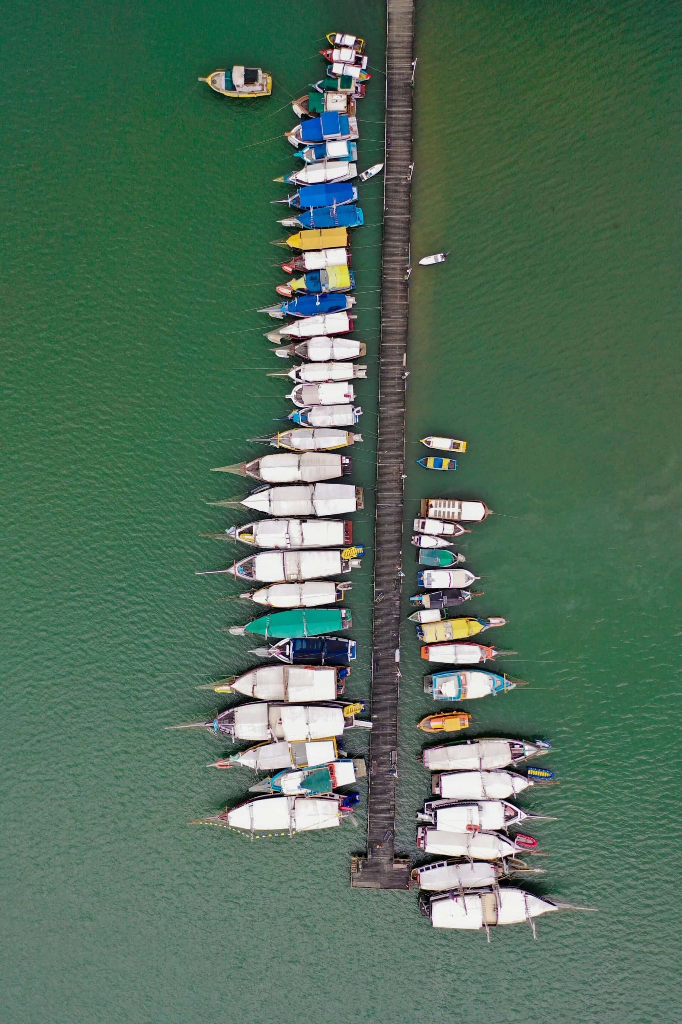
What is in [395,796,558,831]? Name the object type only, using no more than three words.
boat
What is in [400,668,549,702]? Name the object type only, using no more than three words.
boat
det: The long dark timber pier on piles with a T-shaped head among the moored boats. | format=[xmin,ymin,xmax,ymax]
[351,0,415,890]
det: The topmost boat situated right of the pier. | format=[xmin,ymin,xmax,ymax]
[418,251,450,266]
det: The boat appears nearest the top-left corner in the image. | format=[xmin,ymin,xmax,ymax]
[193,67,271,100]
